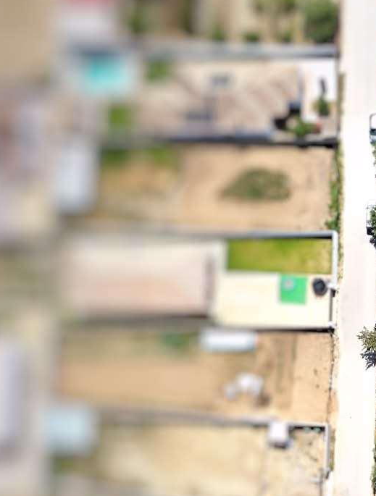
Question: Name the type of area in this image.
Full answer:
It's a residential area.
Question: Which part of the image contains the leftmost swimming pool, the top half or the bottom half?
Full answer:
It is in the top half that the leftmost swimming pool appears.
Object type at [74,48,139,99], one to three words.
swimming pool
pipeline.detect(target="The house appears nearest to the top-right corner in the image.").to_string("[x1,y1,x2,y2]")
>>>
[171,63,301,137]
